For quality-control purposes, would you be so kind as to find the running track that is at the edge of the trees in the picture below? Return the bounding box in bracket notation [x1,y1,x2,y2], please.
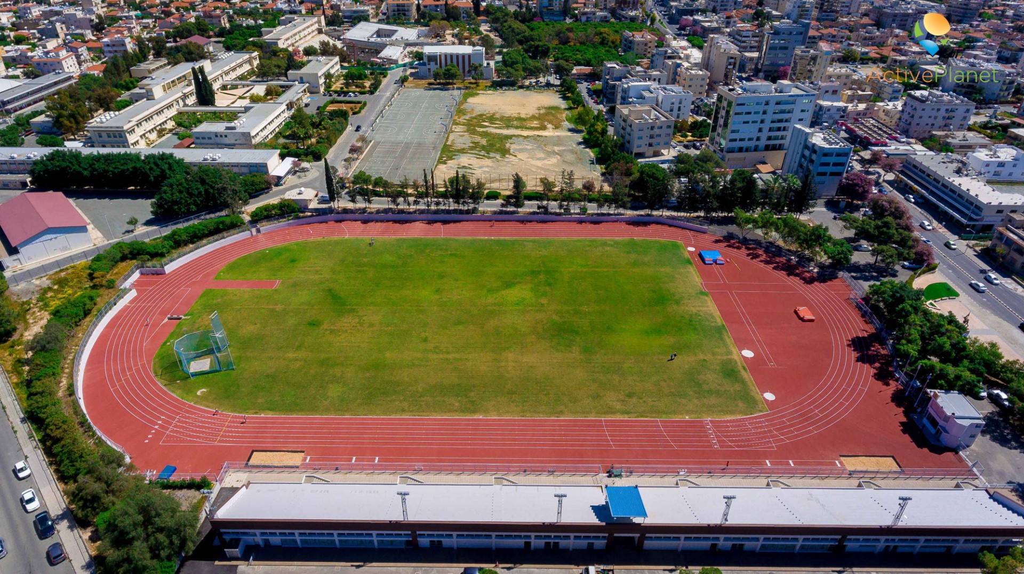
[82,220,978,480]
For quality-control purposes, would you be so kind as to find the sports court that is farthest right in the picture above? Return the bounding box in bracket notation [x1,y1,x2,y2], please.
[356,88,464,183]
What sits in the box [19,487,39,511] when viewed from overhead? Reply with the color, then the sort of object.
white car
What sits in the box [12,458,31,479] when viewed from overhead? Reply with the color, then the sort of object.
white car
